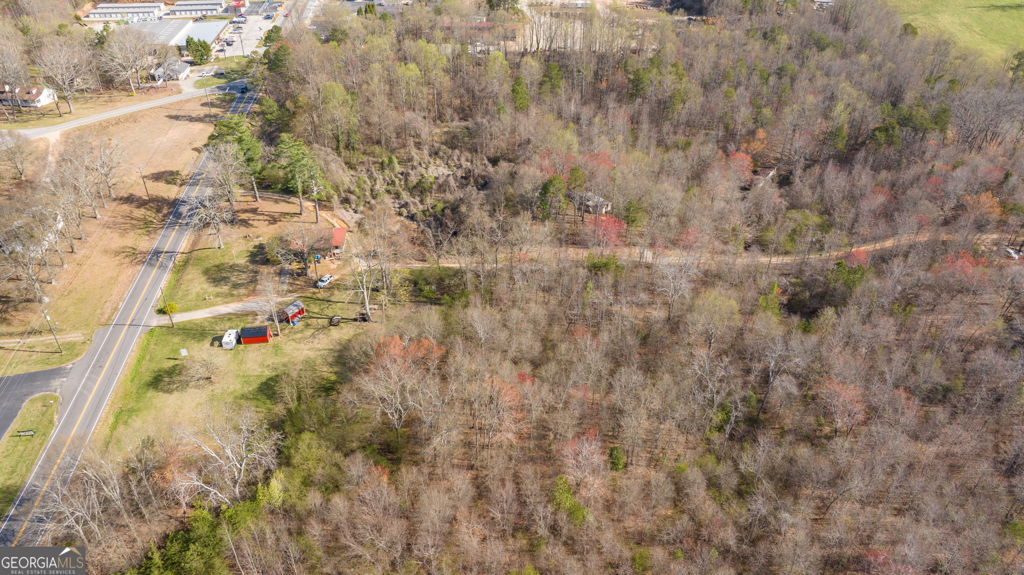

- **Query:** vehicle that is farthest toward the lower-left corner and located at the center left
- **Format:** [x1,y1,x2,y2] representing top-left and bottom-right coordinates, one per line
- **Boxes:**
[218,324,240,349]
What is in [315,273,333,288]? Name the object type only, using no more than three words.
car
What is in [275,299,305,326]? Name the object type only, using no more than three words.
shed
